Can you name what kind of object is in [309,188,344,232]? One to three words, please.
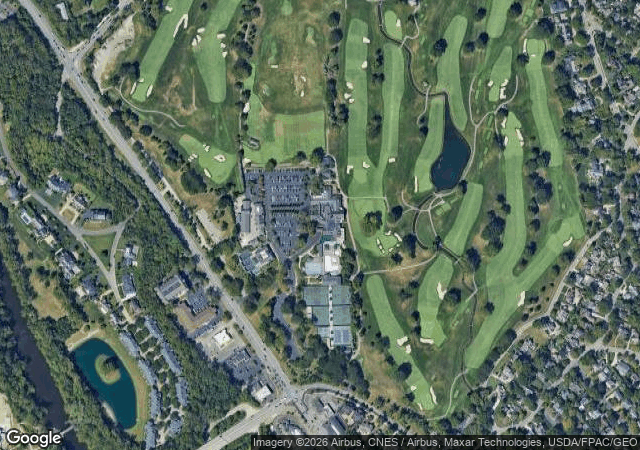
building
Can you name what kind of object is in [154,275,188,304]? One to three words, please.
building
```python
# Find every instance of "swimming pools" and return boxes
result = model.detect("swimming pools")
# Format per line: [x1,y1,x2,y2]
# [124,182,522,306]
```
[304,261,324,276]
